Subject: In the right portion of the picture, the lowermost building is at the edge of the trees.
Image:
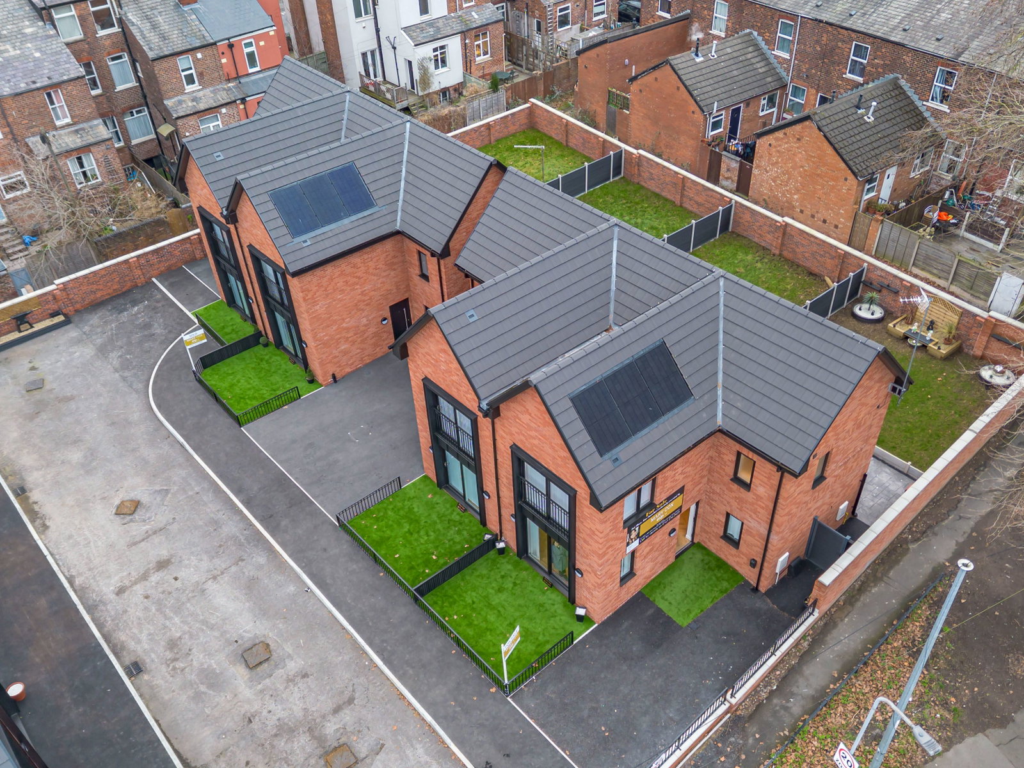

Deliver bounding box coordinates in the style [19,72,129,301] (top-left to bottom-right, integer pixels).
[387,165,915,622]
